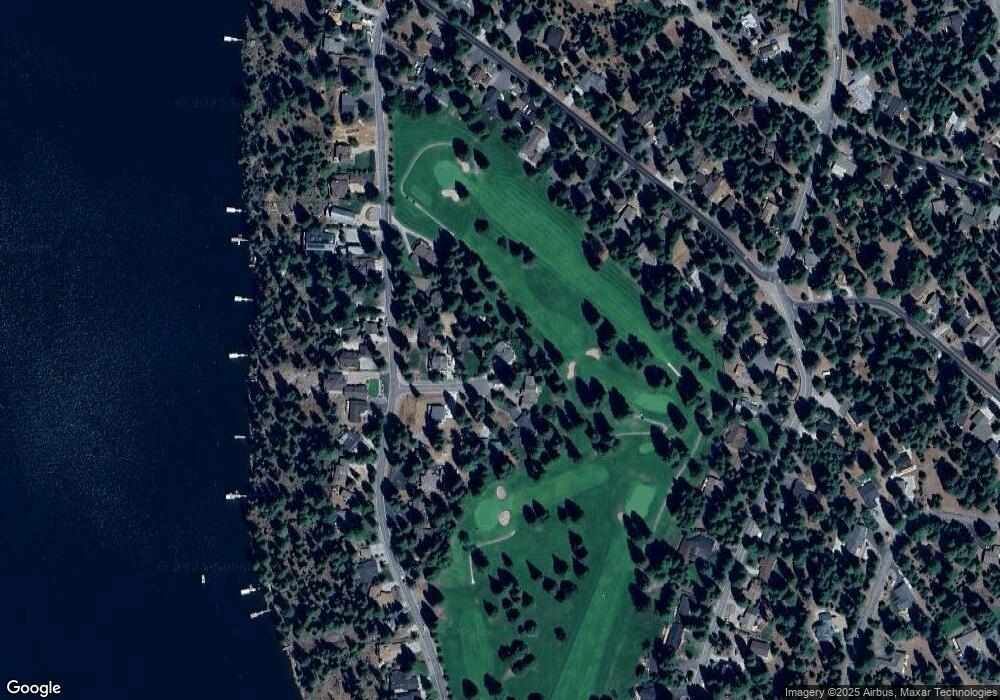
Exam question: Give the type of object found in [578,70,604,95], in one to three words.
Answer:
house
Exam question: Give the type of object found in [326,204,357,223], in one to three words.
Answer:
house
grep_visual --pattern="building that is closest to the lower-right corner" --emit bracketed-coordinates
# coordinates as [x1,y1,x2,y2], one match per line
[953,629,985,655]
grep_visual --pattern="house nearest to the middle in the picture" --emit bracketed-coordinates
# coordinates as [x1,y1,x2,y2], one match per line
[493,339,517,363]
